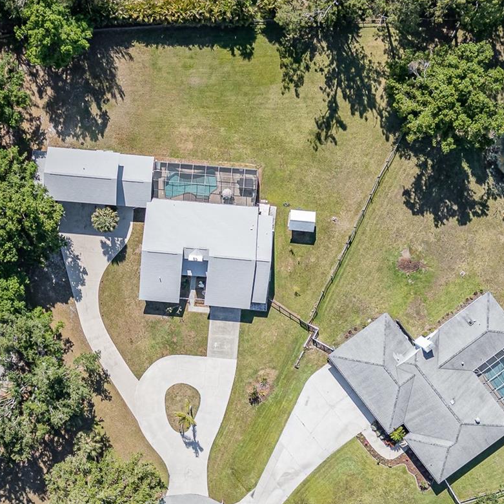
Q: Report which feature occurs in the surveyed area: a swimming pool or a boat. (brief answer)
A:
swimming pool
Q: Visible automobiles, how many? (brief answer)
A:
0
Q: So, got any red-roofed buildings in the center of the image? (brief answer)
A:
No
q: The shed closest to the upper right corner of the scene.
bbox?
[288,210,318,232]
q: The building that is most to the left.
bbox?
[42,147,154,208]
